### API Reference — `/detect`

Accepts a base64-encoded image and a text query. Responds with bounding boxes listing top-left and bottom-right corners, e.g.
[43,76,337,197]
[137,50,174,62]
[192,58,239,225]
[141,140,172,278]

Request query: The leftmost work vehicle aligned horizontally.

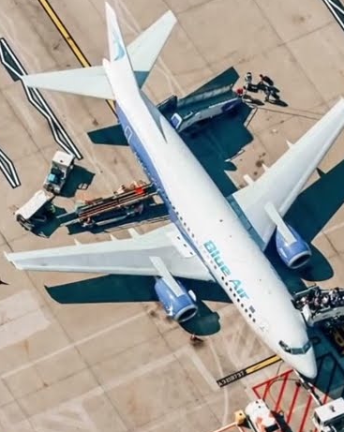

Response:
[70,187,161,229]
